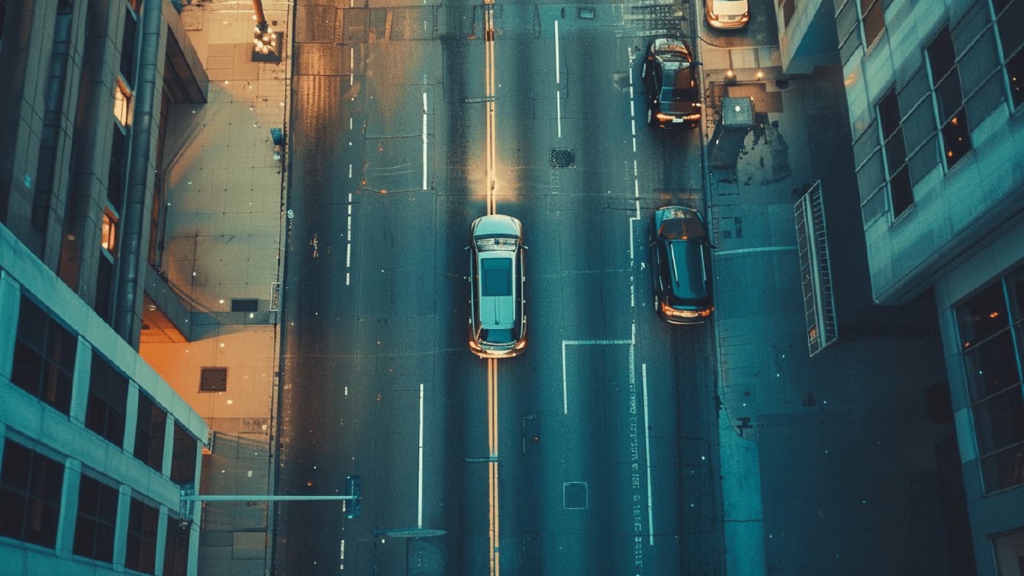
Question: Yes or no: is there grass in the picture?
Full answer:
No, there's no grass in this view.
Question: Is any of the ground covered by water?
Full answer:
No, water can't be seen anywhere here.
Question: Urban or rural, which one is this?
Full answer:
From above, the setting appears urban.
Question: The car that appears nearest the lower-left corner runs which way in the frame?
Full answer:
I'd say the car that appears nearest the lower-left corner is aligned from top to bottom in the picture.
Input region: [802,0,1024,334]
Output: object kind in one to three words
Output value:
building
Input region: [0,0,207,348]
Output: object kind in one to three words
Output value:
building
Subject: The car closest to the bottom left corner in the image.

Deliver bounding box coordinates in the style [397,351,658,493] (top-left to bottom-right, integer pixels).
[463,217,532,361]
